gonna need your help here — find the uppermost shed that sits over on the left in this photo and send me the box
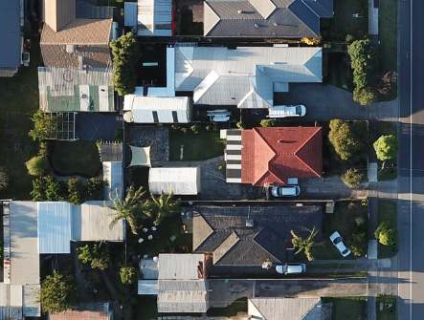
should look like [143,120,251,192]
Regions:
[125,0,176,36]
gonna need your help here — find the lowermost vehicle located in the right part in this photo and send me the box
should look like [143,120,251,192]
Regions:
[275,261,306,276]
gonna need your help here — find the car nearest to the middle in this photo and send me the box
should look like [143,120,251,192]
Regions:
[203,108,234,123]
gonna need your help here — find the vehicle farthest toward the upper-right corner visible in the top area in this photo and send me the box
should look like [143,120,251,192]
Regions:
[266,104,306,119]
